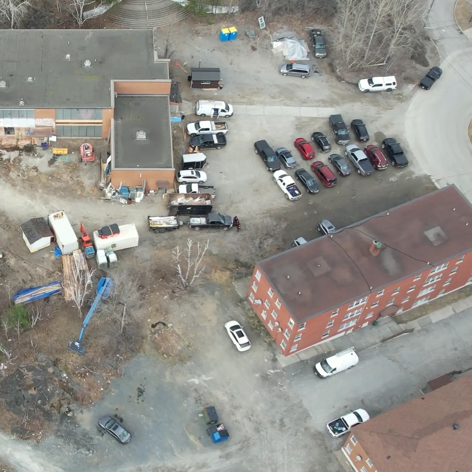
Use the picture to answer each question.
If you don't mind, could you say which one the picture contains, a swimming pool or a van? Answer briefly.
van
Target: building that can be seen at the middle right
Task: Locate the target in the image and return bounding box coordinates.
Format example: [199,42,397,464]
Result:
[235,184,472,357]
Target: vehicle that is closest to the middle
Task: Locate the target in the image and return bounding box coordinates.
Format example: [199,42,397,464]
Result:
[186,214,239,233]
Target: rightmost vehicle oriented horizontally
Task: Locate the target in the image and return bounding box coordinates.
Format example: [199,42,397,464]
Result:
[356,75,400,93]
